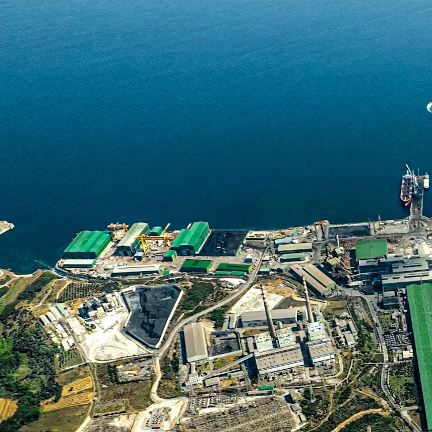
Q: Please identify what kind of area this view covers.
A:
port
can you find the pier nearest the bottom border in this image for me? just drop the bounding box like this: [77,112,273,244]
[409,179,423,219]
